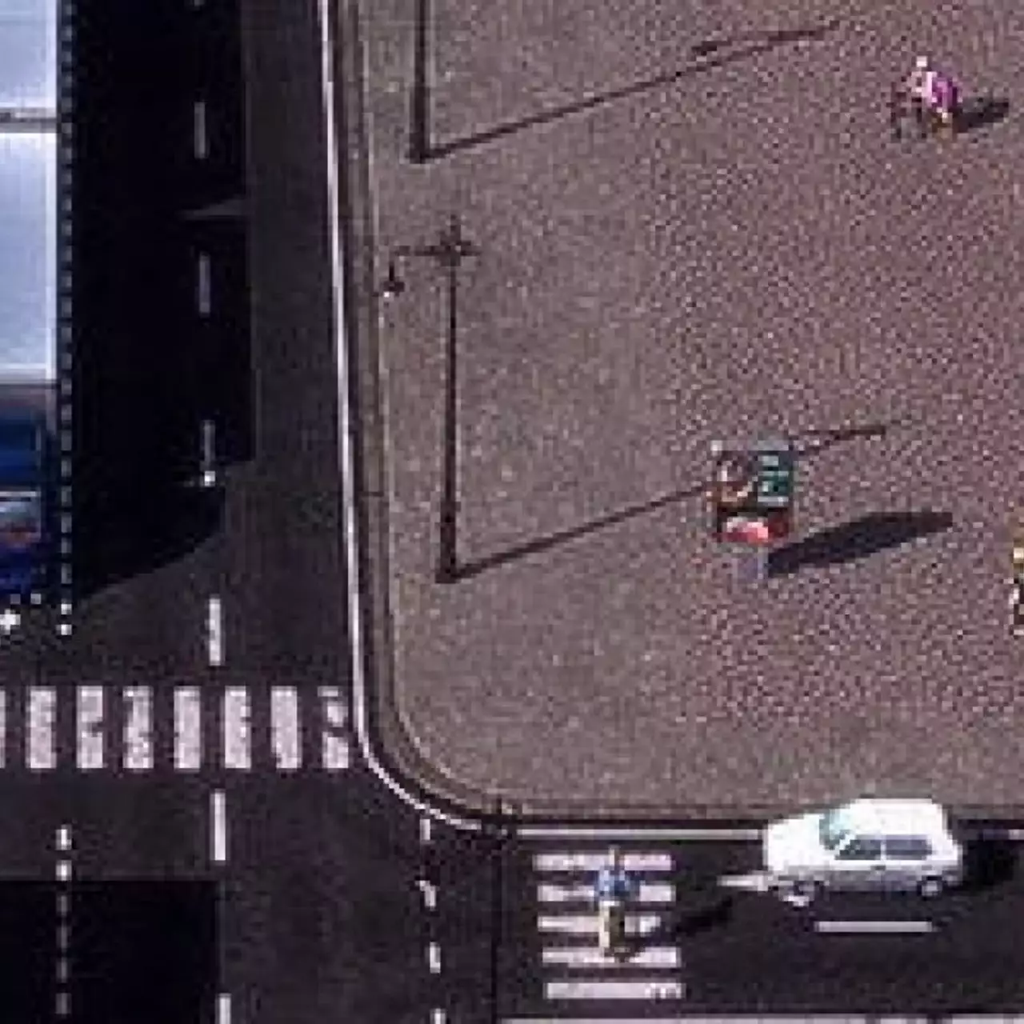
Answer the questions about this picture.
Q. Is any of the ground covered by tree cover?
No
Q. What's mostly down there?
paved ground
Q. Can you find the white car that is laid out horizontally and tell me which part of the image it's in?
bottom right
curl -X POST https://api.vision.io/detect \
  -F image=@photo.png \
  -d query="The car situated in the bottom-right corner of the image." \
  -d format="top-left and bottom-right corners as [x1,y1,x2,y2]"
[761,797,966,901]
